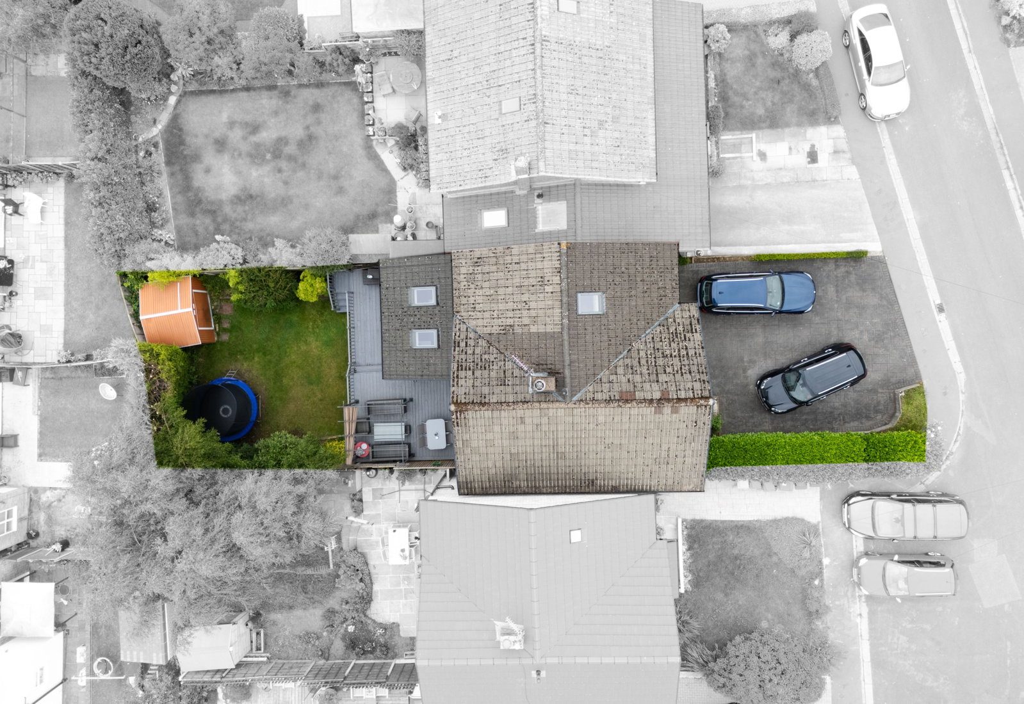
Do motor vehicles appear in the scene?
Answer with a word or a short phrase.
Yes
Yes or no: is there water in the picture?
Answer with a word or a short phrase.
No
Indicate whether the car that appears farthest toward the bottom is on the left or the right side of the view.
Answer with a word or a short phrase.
right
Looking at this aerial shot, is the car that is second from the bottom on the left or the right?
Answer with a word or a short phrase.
right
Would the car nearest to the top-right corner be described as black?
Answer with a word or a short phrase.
No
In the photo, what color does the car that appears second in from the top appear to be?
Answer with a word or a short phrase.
blue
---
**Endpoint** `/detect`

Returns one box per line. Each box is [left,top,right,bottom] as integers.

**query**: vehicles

[753,341,872,416]
[697,265,815,320]
[840,489,969,546]
[841,2,913,123]
[852,551,957,605]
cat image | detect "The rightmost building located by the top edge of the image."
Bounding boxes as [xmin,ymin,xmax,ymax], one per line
[420,0,712,257]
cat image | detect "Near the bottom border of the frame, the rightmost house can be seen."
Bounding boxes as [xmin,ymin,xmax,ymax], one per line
[414,481,682,704]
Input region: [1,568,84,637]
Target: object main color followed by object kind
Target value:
white gazebo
